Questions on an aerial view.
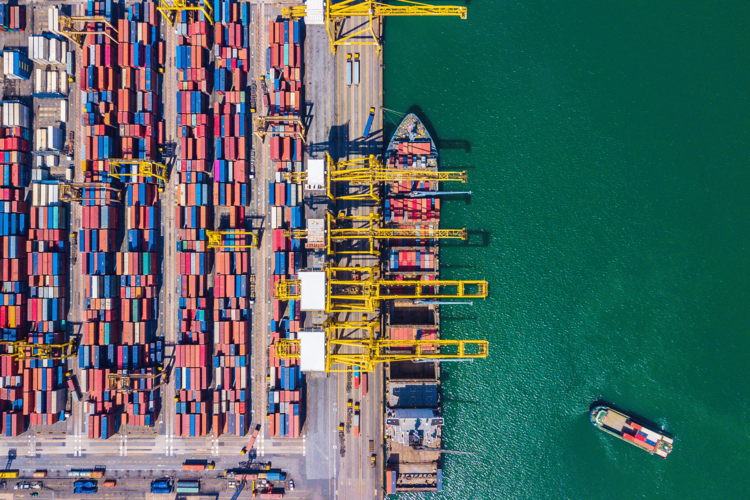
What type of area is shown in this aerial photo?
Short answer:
port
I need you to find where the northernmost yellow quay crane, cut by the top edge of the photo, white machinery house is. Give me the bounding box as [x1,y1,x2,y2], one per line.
[281,0,469,61]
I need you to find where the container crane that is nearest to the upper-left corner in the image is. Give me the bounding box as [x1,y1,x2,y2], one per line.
[58,16,119,51]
